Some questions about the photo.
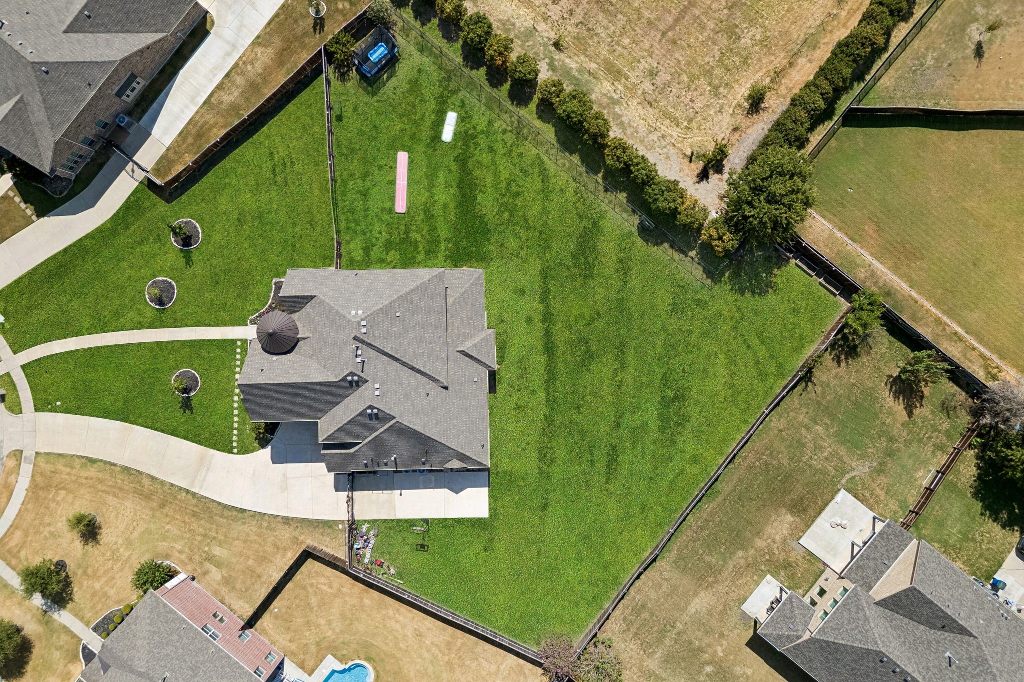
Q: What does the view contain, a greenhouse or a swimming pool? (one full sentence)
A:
Looking from above, you can make out a swimming pool.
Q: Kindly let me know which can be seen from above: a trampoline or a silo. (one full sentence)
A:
It is a trampoline that can be seen here.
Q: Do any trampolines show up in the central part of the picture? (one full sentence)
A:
No, looking in the central part of the picture, there is no trampoline.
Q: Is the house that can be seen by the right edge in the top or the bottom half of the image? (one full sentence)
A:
The bottom half of the photo is where the house that can be seen by the right edge is.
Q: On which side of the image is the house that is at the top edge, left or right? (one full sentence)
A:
You can find the house that is at the top edge on the left side of the picture.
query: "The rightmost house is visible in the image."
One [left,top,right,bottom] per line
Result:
[755,515,1024,682]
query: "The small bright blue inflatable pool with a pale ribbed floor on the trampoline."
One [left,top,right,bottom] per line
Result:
[363,40,387,64]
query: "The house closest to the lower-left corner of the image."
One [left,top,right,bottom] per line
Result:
[73,573,283,682]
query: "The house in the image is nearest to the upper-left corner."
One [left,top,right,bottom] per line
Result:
[0,0,215,178]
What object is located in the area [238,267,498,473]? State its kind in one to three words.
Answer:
house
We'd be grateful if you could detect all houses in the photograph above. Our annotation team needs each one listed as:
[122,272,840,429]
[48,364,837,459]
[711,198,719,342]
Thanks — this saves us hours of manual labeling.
[0,0,215,178]
[73,573,283,682]
[238,267,498,473]
[755,515,1024,682]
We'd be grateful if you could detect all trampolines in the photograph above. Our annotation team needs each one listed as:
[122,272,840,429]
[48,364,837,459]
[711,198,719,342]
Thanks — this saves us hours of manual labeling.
[349,22,399,79]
